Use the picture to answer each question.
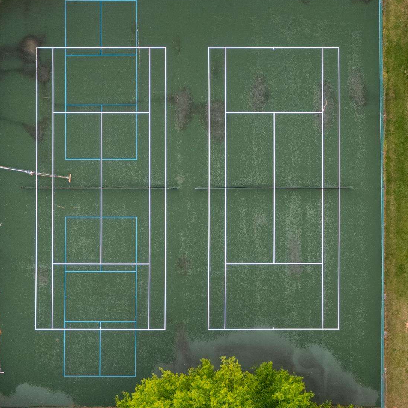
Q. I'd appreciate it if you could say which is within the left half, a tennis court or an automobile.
tennis court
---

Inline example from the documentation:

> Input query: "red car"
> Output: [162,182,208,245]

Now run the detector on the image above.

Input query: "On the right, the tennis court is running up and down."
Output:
[205,45,342,333]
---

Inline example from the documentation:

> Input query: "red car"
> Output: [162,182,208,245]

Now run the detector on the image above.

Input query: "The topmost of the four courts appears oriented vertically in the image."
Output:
[65,0,137,159]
